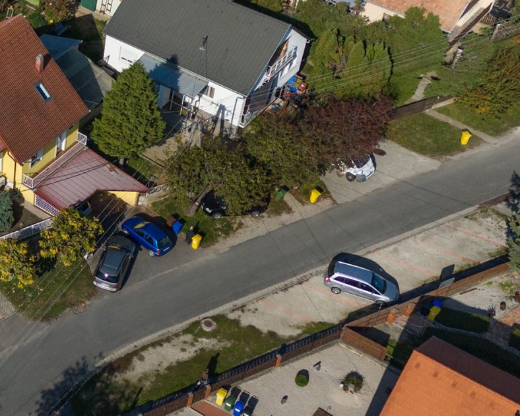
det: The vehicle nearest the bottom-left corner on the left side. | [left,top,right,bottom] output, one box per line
[89,236,135,294]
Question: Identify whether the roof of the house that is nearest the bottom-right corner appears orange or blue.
orange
